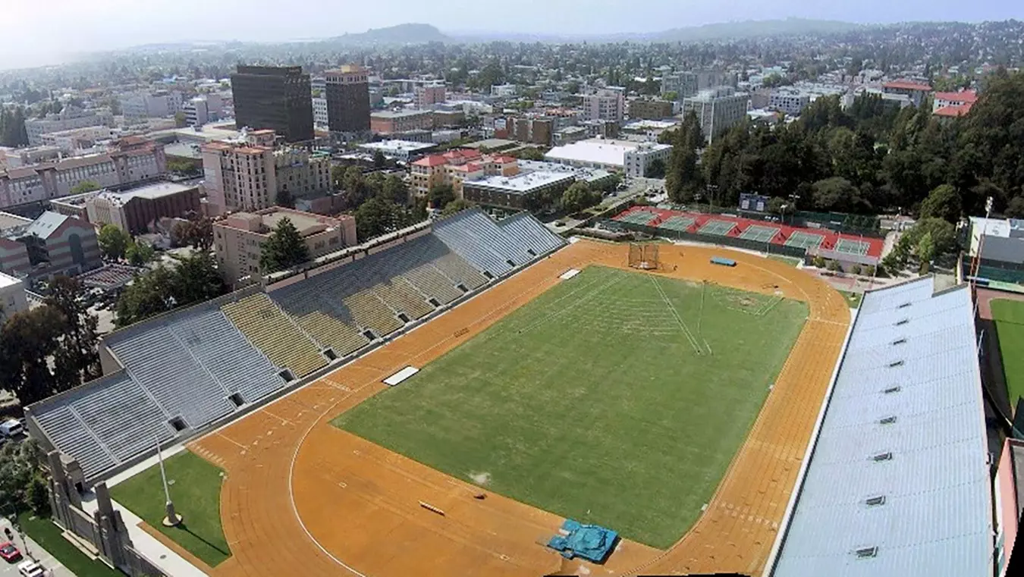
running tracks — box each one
[185,240,851,577]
